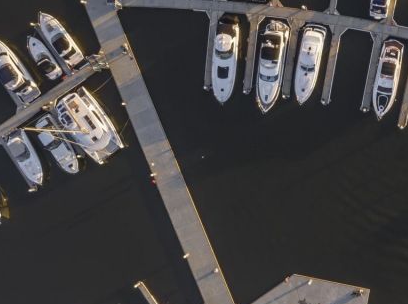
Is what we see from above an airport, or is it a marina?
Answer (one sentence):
This image shows a marina.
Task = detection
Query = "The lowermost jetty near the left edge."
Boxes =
[0,23,95,188]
